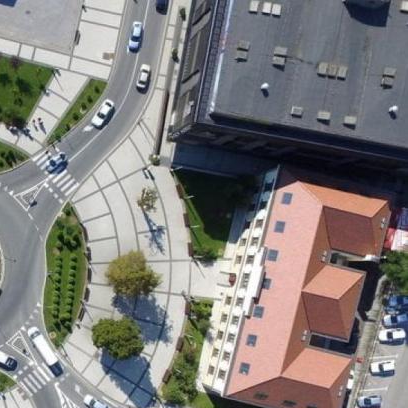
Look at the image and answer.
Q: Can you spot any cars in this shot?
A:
Yes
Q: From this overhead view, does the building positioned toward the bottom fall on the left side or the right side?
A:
right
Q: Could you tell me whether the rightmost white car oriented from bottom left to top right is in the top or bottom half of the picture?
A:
top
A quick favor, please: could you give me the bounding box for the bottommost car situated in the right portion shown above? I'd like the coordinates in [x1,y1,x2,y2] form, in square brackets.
[355,394,381,407]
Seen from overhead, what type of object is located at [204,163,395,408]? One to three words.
building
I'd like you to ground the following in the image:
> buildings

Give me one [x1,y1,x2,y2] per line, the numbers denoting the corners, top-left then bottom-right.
[172,0,408,175]
[204,163,395,408]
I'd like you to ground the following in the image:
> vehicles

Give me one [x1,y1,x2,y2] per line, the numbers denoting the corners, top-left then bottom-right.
[0,351,17,369]
[346,367,360,392]
[376,329,405,342]
[44,153,68,174]
[369,362,394,375]
[92,101,114,127]
[380,313,408,326]
[135,63,151,92]
[25,326,60,368]
[127,23,141,52]
[83,395,108,408]
[355,394,381,407]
